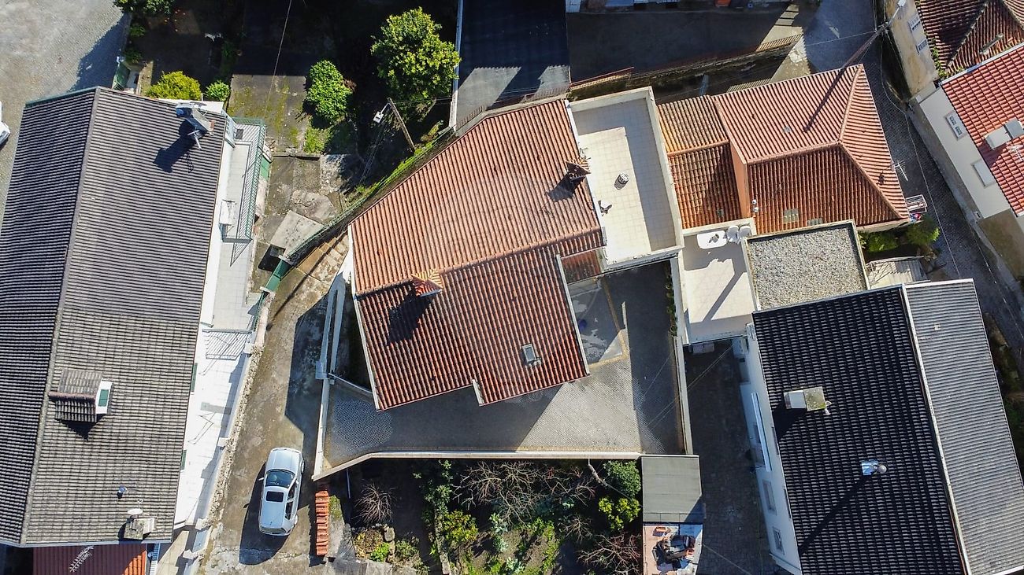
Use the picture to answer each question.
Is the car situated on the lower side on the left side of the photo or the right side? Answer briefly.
left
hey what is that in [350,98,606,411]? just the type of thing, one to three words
house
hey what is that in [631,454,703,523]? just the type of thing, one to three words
shed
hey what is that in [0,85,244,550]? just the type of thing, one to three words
house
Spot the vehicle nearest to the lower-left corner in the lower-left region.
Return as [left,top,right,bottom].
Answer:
[255,450,302,538]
